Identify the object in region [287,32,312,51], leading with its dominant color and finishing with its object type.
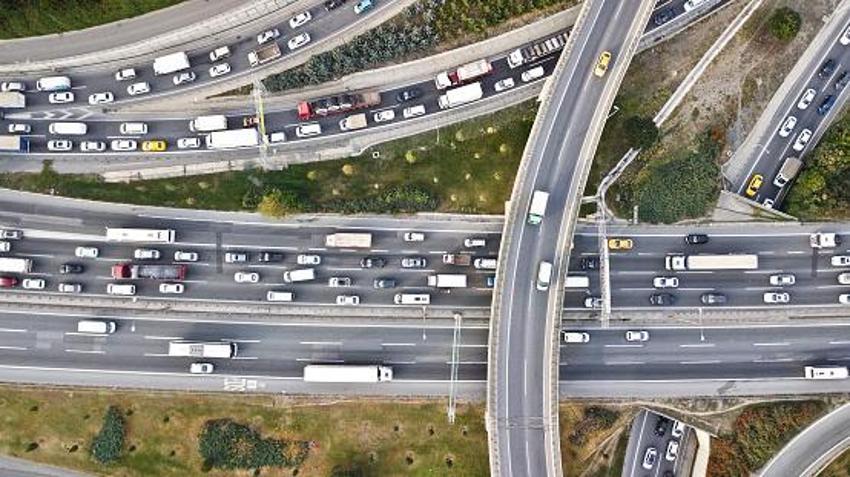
white car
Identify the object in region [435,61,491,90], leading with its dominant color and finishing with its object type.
white truck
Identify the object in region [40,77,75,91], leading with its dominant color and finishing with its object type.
white vehicle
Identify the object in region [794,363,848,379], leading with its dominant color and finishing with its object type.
white vehicle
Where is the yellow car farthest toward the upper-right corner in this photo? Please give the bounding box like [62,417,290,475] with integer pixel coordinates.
[745,173,764,197]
